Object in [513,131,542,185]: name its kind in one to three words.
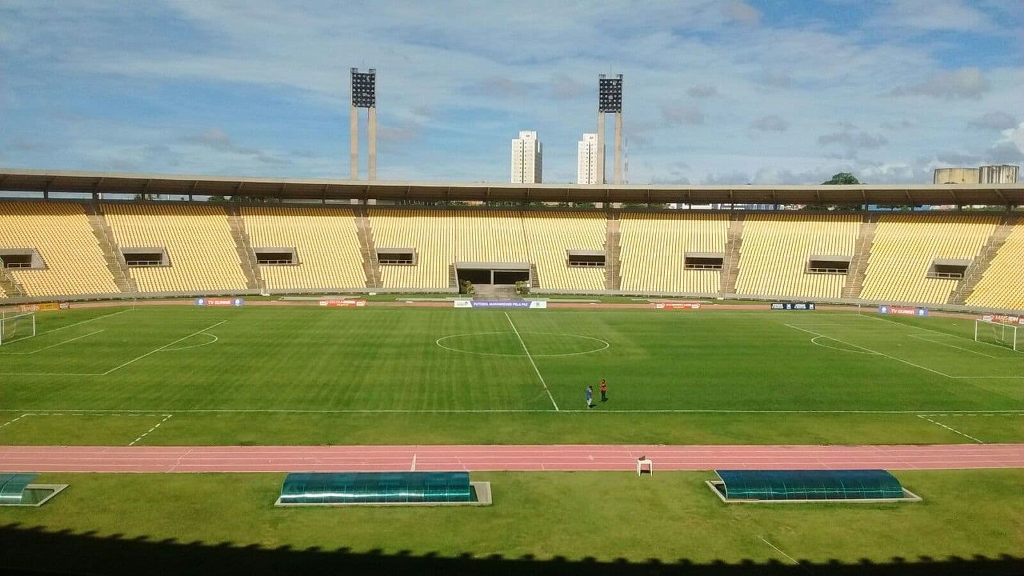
building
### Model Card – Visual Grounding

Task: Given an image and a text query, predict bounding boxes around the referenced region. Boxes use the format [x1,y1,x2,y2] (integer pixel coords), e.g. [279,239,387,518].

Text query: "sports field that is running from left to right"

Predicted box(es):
[0,306,1024,560]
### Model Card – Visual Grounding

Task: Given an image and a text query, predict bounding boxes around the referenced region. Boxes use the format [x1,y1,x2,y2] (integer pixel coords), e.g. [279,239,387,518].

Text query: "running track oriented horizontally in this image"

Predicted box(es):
[0,301,1024,473]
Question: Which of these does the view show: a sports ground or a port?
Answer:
sports ground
